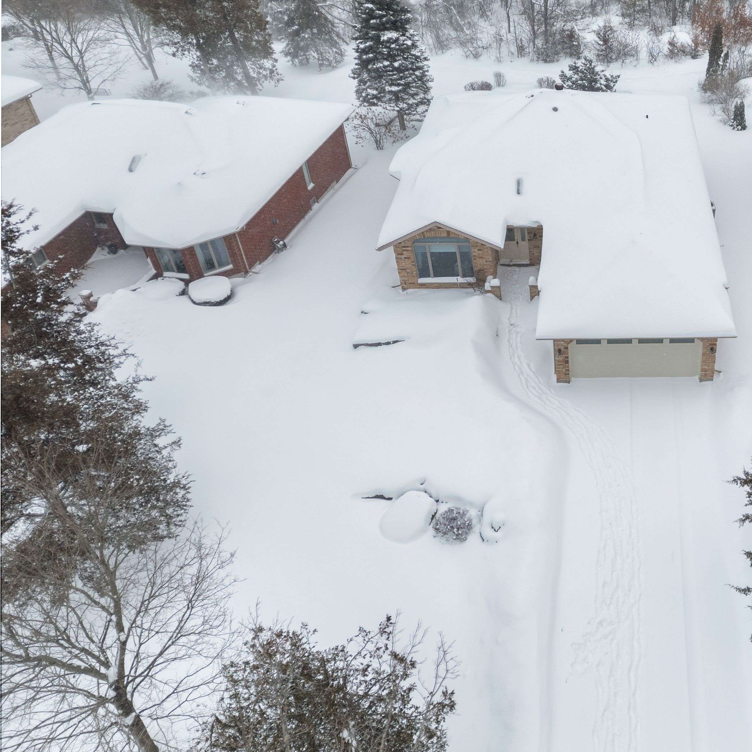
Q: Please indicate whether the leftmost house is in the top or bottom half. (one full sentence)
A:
The top half of the photo is where the leftmost house is.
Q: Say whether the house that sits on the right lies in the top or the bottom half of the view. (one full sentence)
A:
The top half of the photo is where the house that sits on the right is.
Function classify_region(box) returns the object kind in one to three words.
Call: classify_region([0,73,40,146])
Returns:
house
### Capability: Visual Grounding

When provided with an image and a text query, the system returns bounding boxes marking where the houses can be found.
[0,87,363,329]
[377,76,739,385]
